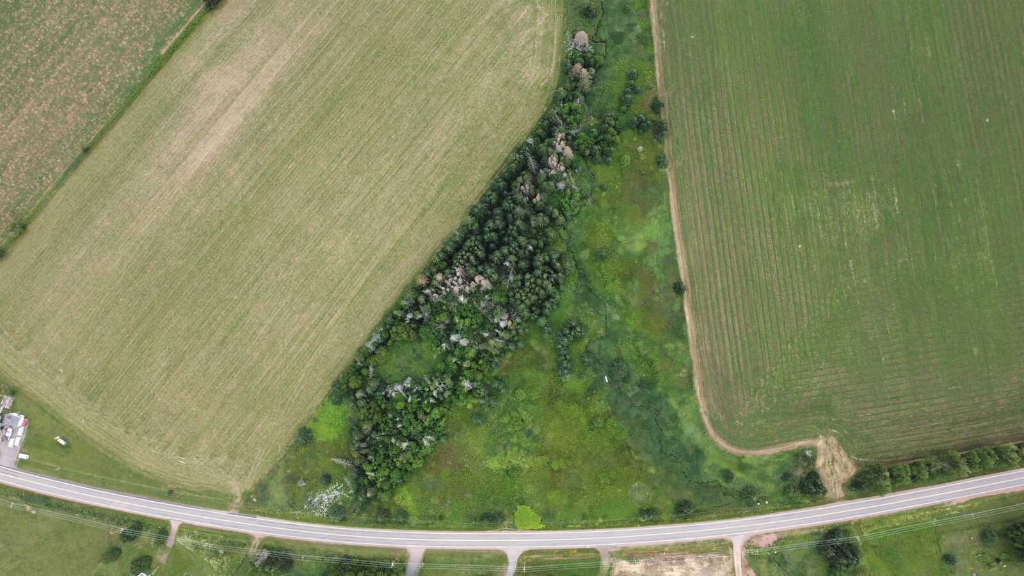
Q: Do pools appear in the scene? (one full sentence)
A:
No, no pool can be seen from above.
